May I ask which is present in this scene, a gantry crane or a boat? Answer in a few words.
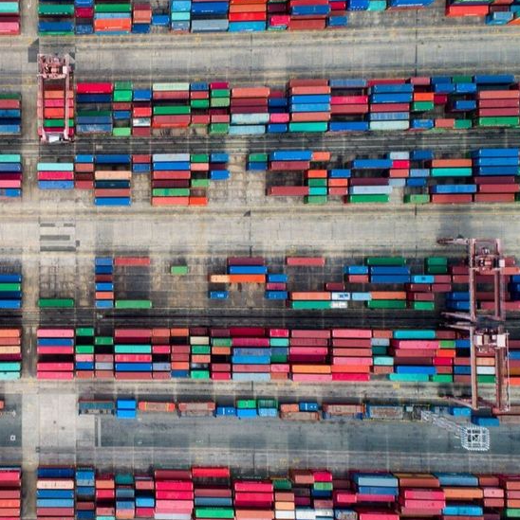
gantry crane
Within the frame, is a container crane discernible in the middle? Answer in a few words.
No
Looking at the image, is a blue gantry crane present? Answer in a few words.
No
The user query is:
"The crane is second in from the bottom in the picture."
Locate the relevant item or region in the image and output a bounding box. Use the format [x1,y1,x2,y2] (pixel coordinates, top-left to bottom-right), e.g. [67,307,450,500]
[430,237,506,320]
